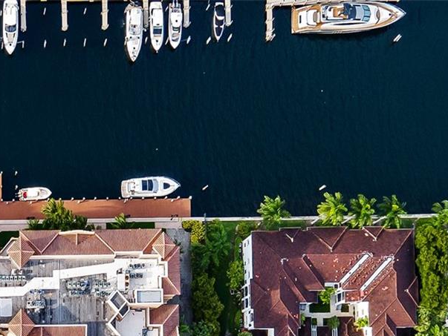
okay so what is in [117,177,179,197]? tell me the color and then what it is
white boat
